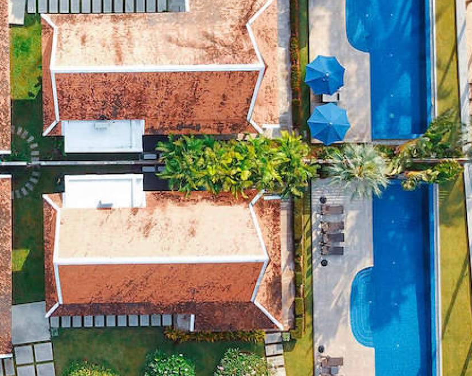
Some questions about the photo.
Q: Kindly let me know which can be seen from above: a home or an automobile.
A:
home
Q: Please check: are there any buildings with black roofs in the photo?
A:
No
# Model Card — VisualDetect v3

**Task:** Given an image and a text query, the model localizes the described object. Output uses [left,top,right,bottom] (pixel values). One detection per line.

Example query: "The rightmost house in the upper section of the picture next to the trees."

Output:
[40,0,278,153]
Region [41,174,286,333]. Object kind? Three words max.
house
